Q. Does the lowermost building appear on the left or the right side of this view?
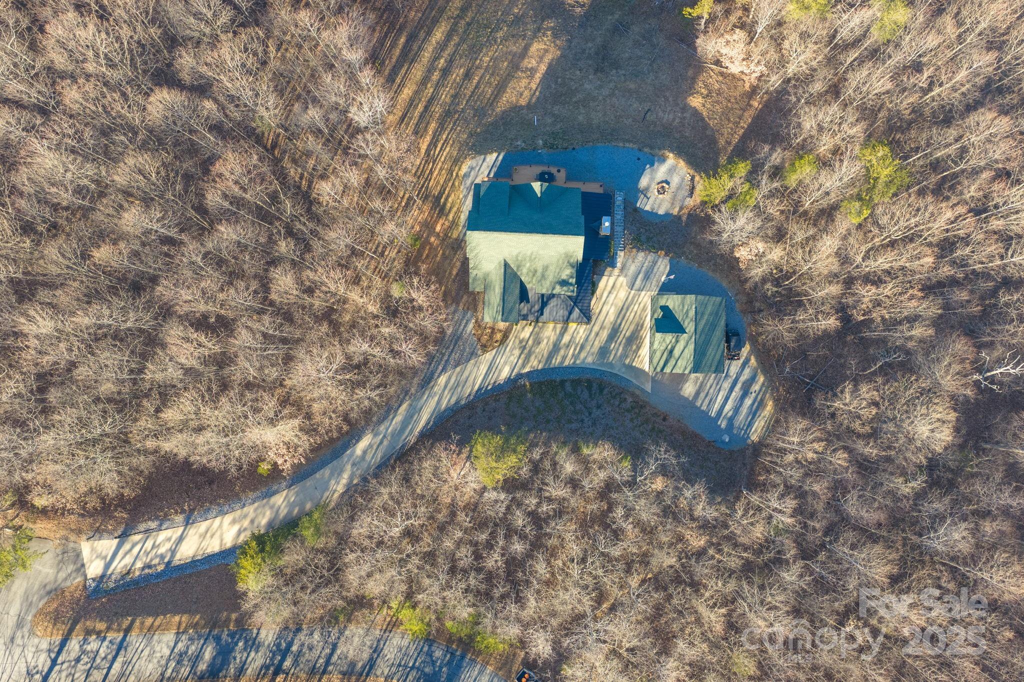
right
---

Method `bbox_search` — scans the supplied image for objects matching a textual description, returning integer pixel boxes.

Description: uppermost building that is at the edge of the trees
[466,182,613,324]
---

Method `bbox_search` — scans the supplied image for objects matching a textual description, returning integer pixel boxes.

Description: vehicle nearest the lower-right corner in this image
[727,332,745,361]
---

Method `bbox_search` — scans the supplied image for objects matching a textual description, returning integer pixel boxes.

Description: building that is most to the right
[648,294,727,374]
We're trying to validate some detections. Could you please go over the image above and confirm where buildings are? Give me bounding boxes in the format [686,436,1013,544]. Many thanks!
[466,182,613,324]
[648,294,727,374]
